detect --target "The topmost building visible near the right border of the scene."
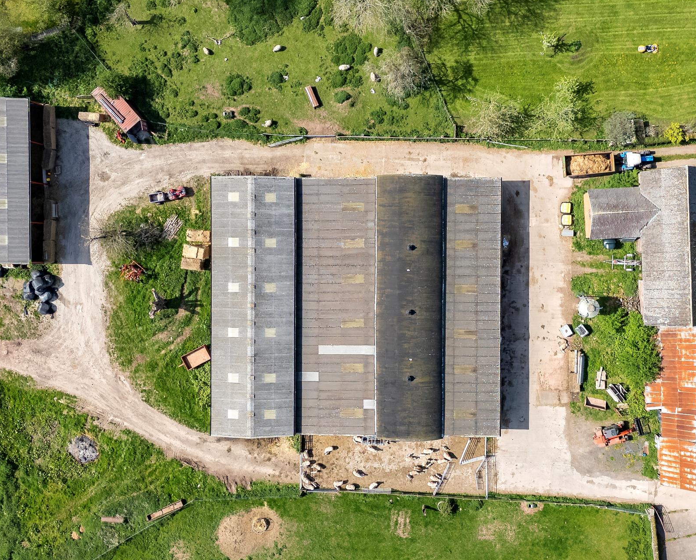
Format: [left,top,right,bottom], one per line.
[584,165,696,327]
